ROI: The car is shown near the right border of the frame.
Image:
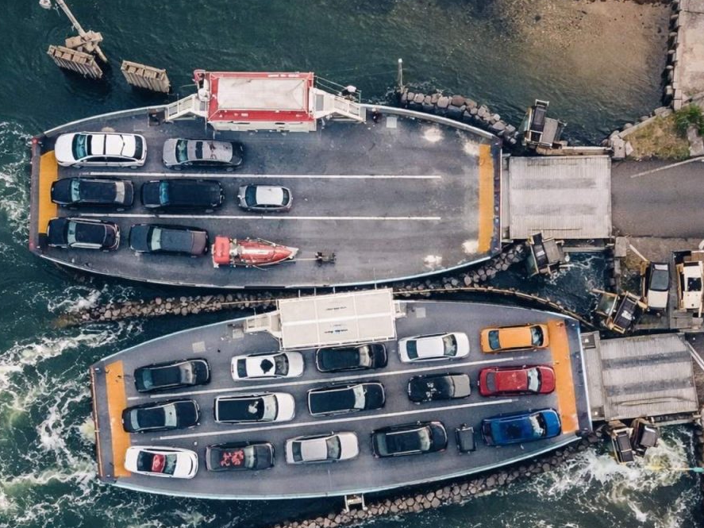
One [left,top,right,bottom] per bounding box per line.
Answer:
[645,265,672,311]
